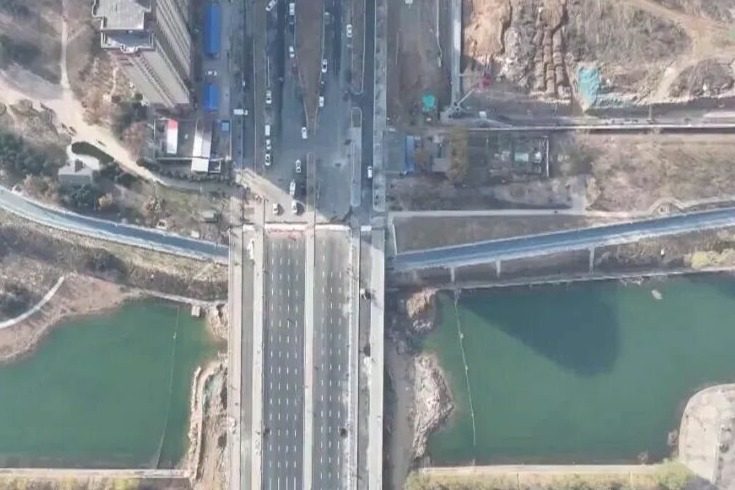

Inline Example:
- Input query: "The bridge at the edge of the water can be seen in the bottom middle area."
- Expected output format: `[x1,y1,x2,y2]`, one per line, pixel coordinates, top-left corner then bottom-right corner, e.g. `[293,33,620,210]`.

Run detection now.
[228,223,384,490]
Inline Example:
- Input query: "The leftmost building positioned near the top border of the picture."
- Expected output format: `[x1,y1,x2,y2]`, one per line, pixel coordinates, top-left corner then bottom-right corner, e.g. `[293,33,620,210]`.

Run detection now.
[91,0,199,110]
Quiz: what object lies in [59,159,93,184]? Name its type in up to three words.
building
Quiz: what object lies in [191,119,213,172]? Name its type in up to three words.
building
